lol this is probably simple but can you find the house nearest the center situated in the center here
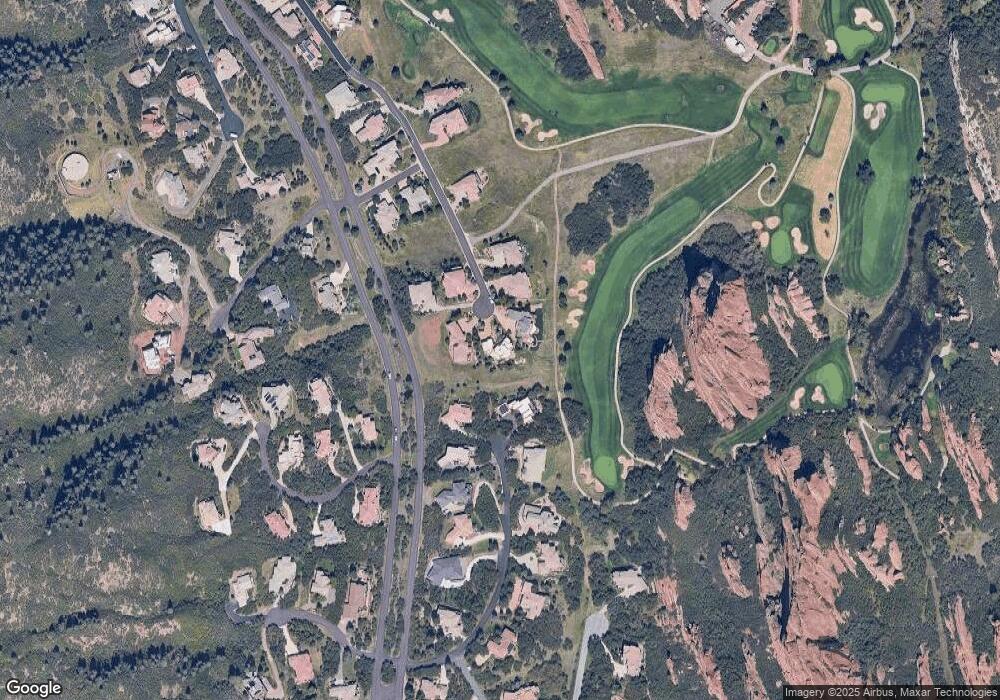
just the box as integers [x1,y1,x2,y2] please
[480,335,516,362]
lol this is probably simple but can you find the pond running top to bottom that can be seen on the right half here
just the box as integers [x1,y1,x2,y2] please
[865,201,942,401]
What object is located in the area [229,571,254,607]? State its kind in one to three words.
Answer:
house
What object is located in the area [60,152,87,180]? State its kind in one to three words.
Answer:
water tank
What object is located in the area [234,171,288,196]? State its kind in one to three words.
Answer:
house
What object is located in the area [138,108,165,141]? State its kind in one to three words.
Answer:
building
